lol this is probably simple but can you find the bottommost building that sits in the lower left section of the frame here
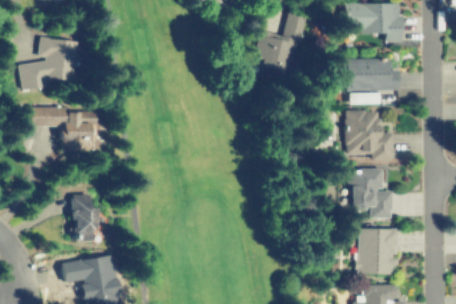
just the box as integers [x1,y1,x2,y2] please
[61,256,125,304]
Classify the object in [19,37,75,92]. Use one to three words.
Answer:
house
